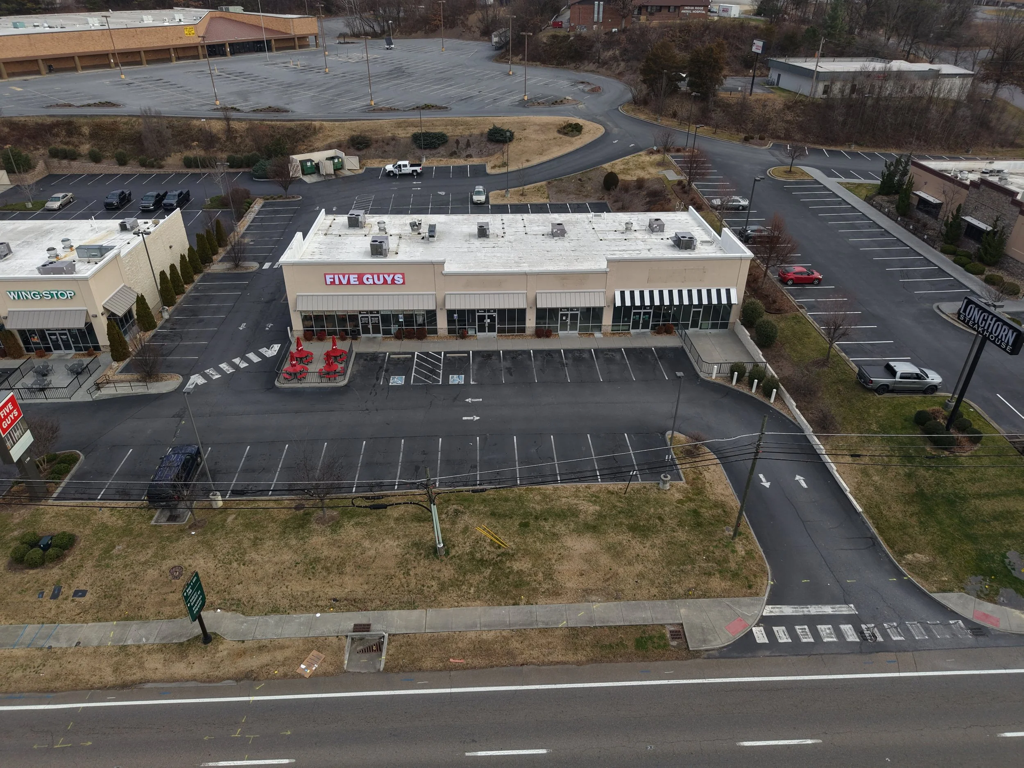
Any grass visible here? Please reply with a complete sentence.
Yes, the picture does contain grass.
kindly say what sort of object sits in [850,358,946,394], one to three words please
truck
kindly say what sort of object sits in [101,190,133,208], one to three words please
vehicle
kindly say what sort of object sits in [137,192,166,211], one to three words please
vehicle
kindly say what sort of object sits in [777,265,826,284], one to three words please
car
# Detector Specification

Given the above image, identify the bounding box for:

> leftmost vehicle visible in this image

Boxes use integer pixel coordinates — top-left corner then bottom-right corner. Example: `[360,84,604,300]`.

[43,193,74,208]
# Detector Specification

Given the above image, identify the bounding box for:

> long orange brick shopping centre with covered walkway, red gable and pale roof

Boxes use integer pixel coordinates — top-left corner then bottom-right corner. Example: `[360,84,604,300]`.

[0,8,319,79]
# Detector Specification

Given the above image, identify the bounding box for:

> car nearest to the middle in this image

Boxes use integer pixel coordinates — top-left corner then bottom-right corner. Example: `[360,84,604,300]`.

[471,185,486,202]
